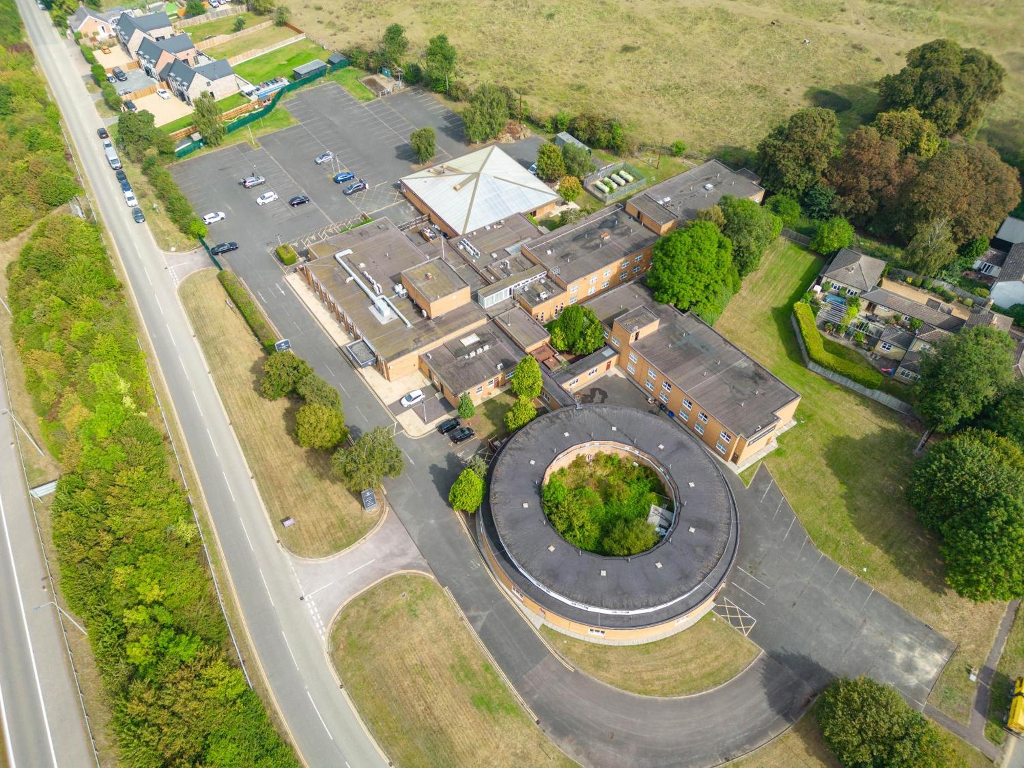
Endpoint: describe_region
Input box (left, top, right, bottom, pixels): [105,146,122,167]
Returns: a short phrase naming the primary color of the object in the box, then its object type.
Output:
white vehicle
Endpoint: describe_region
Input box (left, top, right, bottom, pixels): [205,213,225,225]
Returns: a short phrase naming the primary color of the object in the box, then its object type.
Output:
white vehicle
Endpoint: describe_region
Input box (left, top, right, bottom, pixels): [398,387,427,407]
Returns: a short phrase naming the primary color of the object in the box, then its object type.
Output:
white car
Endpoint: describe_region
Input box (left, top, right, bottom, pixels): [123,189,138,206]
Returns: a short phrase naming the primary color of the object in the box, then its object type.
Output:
white car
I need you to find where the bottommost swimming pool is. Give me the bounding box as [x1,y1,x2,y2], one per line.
[821,291,848,309]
